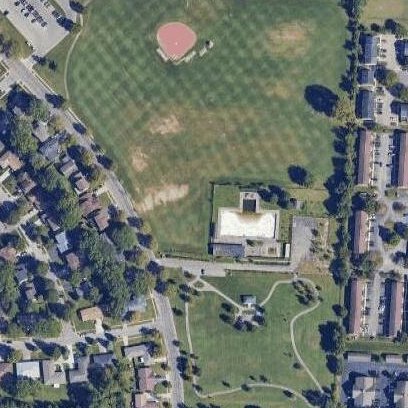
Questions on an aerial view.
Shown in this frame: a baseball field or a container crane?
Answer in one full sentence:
I can see a baseball field in this picture.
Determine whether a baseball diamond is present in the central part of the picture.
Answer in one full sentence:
No, there is no baseball diamond in the central part of the picture.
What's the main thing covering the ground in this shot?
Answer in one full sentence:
The scene is dominated by grass.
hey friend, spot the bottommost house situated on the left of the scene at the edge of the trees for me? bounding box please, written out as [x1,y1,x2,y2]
[132,392,153,408]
